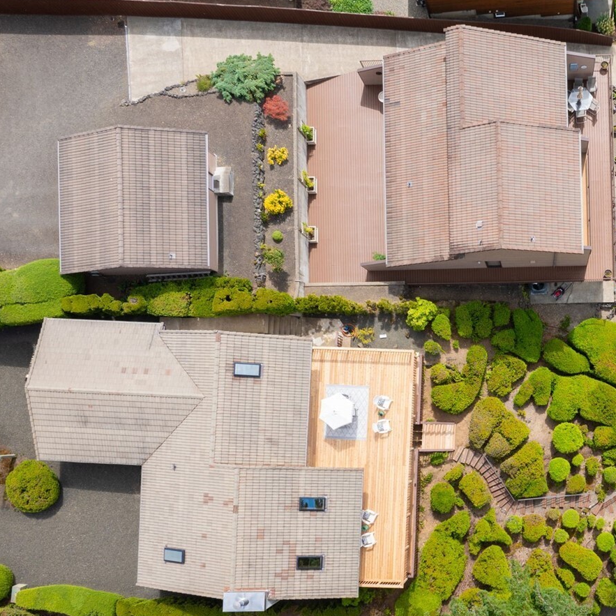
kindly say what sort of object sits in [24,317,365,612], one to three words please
house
